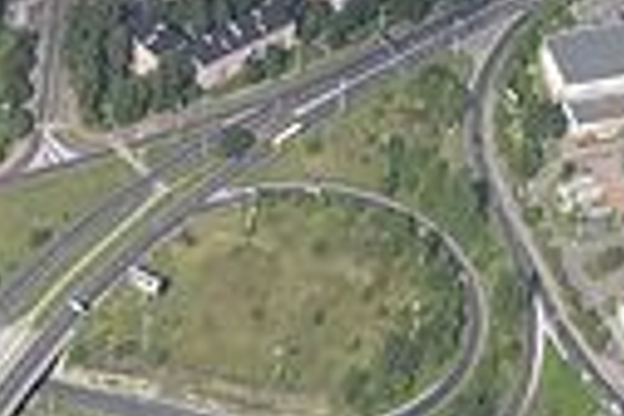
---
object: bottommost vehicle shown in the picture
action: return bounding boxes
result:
[607,399,623,416]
